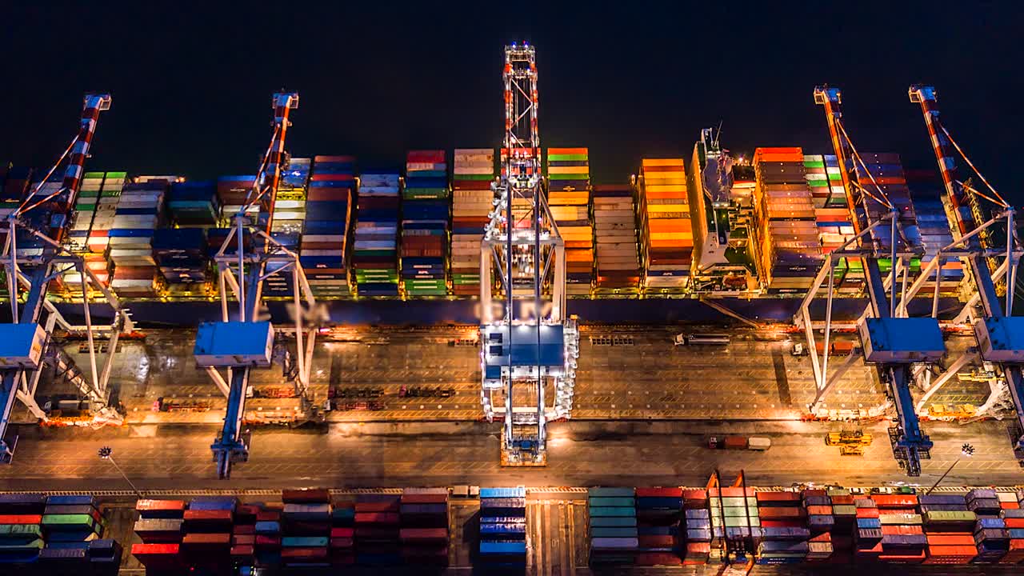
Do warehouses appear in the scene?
No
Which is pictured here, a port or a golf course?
port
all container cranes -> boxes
[467,47,578,465]
[185,86,334,481]
[781,86,947,481]
[898,86,1024,481]
[0,86,144,481]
